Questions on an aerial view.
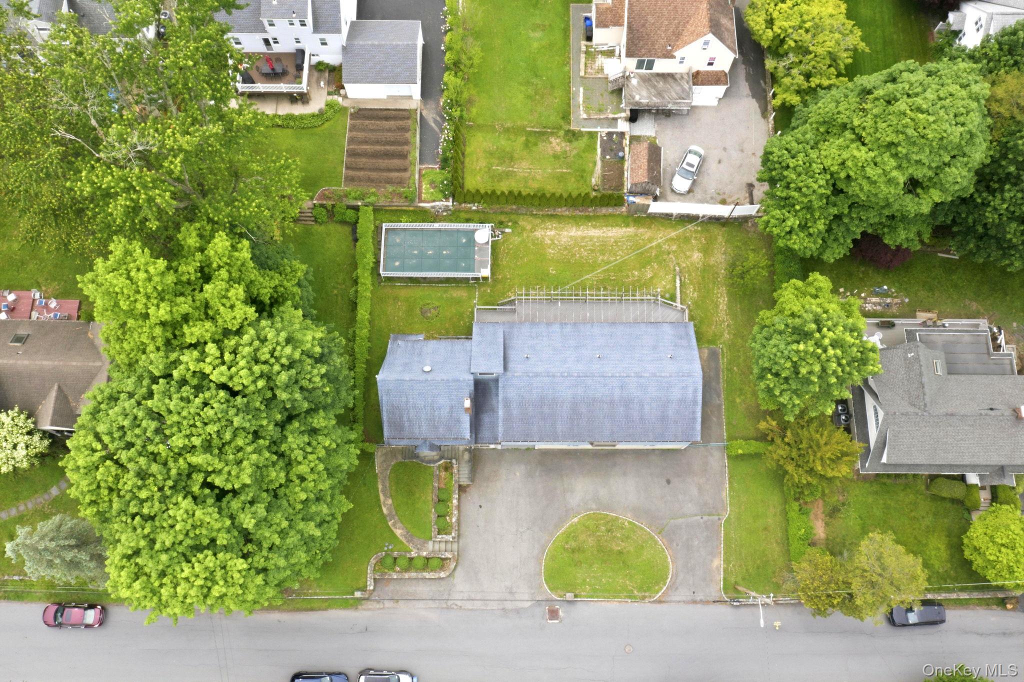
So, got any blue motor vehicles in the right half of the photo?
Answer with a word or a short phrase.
No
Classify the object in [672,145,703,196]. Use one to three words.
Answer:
car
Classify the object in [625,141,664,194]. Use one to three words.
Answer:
shed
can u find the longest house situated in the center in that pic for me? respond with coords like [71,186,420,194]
[374,321,703,456]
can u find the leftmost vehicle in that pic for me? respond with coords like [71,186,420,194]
[42,600,109,632]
